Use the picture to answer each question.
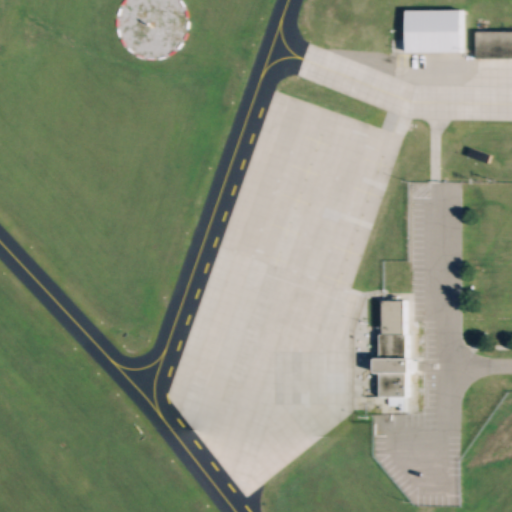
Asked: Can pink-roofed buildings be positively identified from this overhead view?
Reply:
No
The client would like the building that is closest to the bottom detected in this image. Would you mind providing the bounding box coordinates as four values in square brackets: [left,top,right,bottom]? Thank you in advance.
[370,300,406,397]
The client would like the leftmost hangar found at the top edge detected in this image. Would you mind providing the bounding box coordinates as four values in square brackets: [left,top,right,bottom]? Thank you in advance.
[404,10,466,53]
